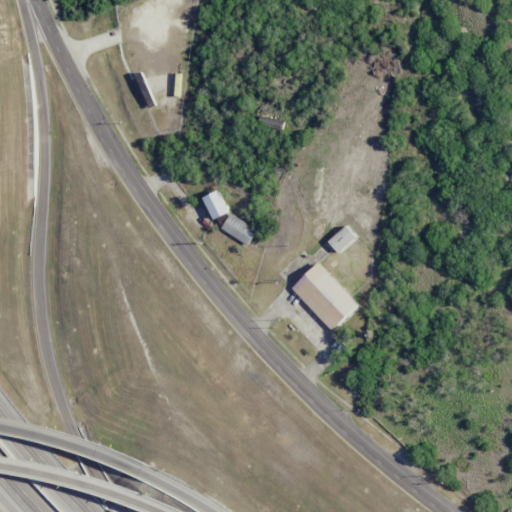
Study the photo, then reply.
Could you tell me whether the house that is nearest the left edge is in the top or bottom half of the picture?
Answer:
top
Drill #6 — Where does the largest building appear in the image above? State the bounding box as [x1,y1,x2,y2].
[292,263,359,330]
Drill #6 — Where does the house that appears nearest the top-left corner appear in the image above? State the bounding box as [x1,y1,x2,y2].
[134,71,158,108]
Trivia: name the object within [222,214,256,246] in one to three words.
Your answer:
house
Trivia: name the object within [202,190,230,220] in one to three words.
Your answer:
house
